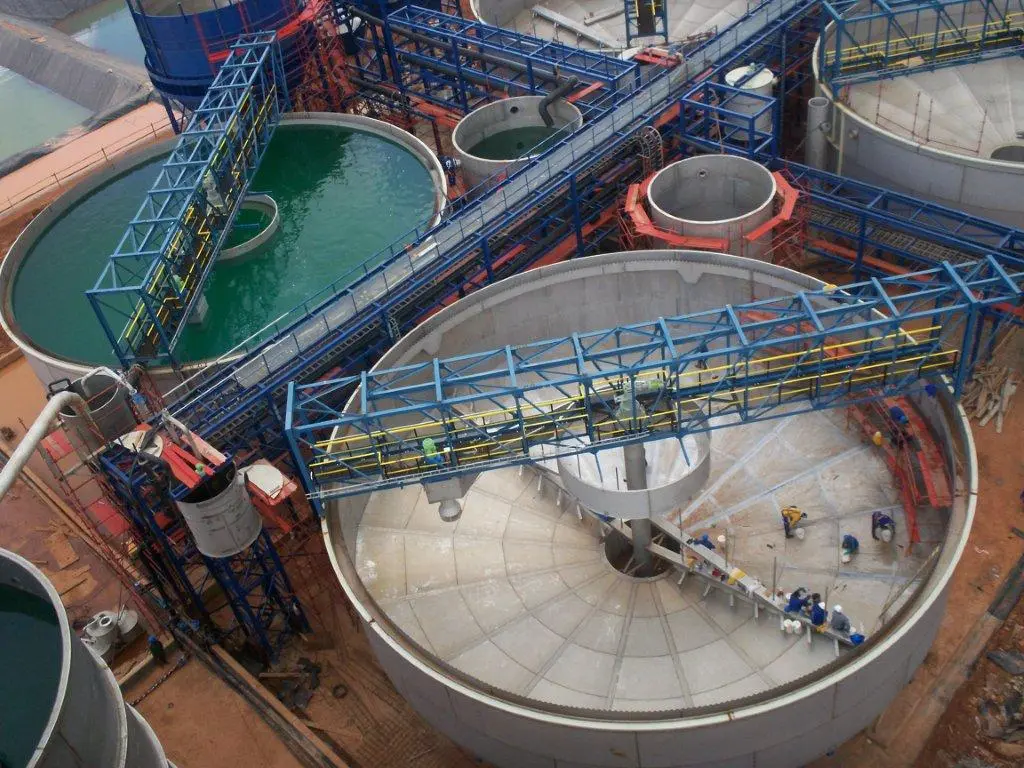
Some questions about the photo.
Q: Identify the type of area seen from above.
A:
industrial area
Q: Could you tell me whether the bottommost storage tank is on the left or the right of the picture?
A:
left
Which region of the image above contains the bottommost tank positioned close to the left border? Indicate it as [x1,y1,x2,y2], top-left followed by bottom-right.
[0,546,197,768]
